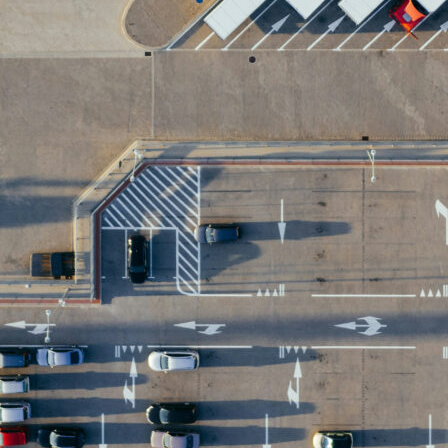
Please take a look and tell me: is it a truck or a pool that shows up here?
truck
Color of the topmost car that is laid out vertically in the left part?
black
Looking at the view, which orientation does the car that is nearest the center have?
from left to right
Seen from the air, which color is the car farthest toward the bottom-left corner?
red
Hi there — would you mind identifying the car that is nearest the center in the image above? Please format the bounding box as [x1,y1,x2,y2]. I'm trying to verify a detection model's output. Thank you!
[194,222,240,245]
